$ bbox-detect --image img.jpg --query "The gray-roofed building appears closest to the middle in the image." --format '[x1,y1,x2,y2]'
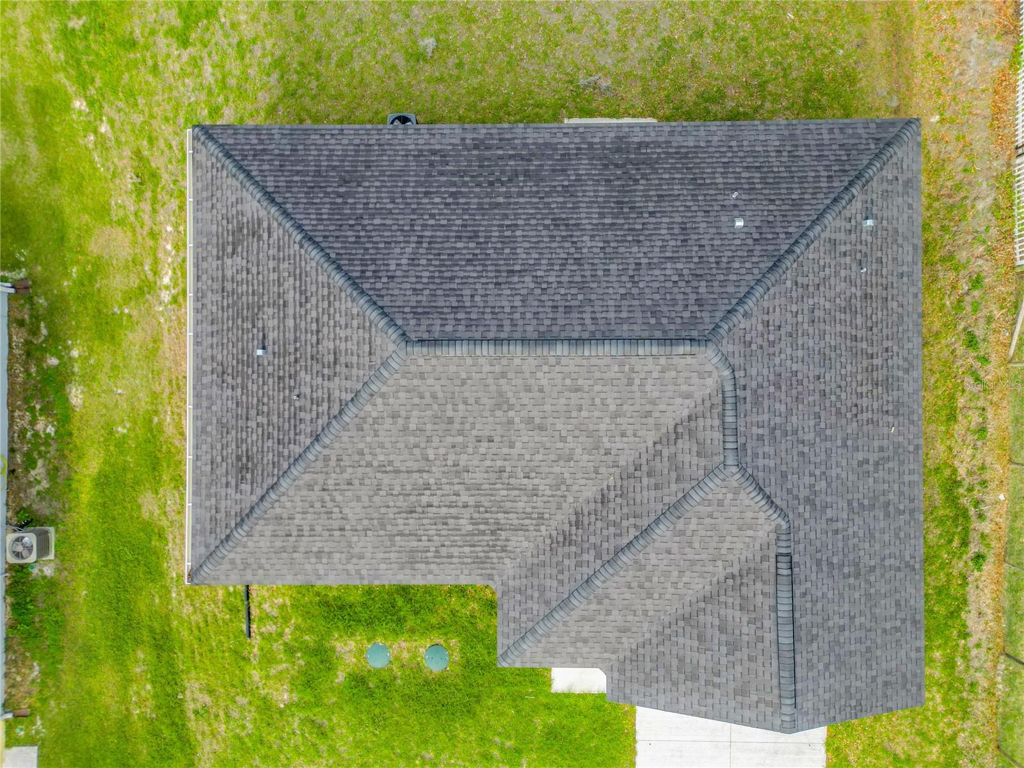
[186,118,925,734]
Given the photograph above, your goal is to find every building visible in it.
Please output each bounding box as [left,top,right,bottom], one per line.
[0,282,15,768]
[186,118,925,734]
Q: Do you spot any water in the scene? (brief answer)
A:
No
